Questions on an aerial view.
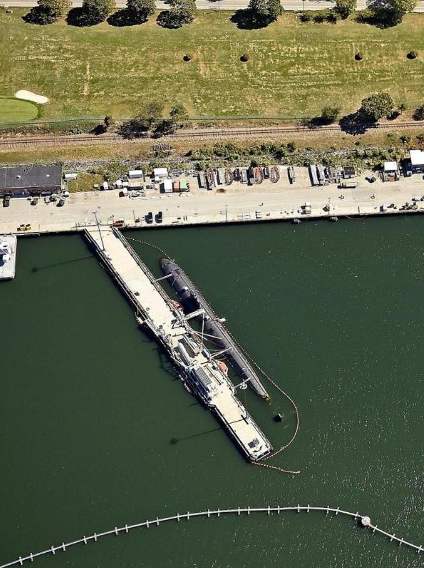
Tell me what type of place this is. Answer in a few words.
port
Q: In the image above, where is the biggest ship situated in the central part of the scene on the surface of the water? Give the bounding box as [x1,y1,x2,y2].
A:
[162,260,280,420]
